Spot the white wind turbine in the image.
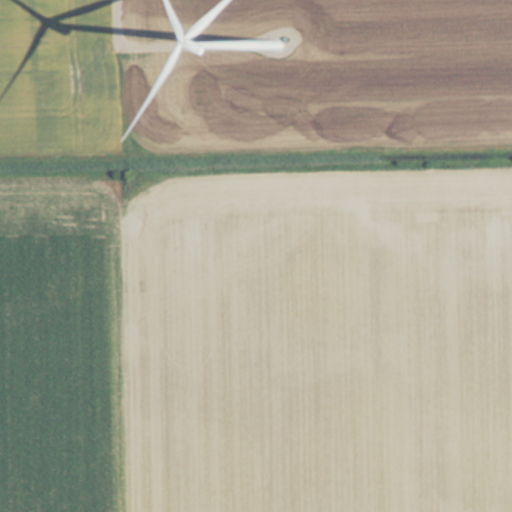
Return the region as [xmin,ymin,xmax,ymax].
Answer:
[124,0,289,141]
